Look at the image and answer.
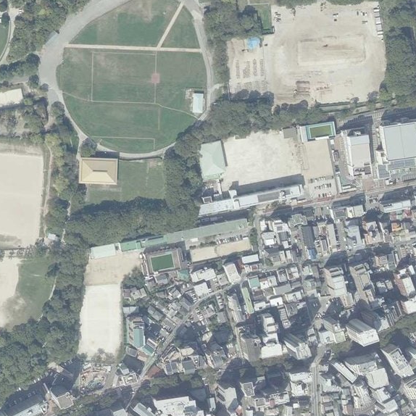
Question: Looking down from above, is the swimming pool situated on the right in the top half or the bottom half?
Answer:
top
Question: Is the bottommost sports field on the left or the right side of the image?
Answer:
left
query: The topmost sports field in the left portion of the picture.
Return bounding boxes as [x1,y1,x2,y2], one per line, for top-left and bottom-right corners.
[57,0,208,153]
